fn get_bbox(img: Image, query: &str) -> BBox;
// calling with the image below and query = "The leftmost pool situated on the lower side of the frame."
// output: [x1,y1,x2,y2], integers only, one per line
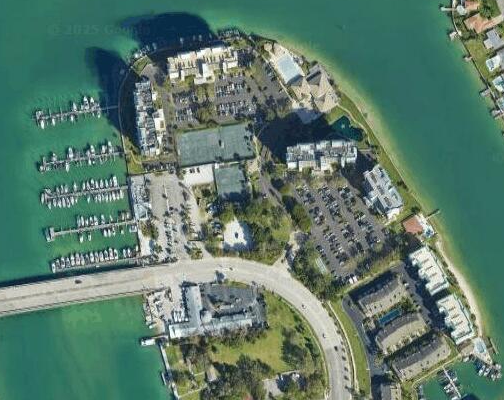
[375,307,404,327]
